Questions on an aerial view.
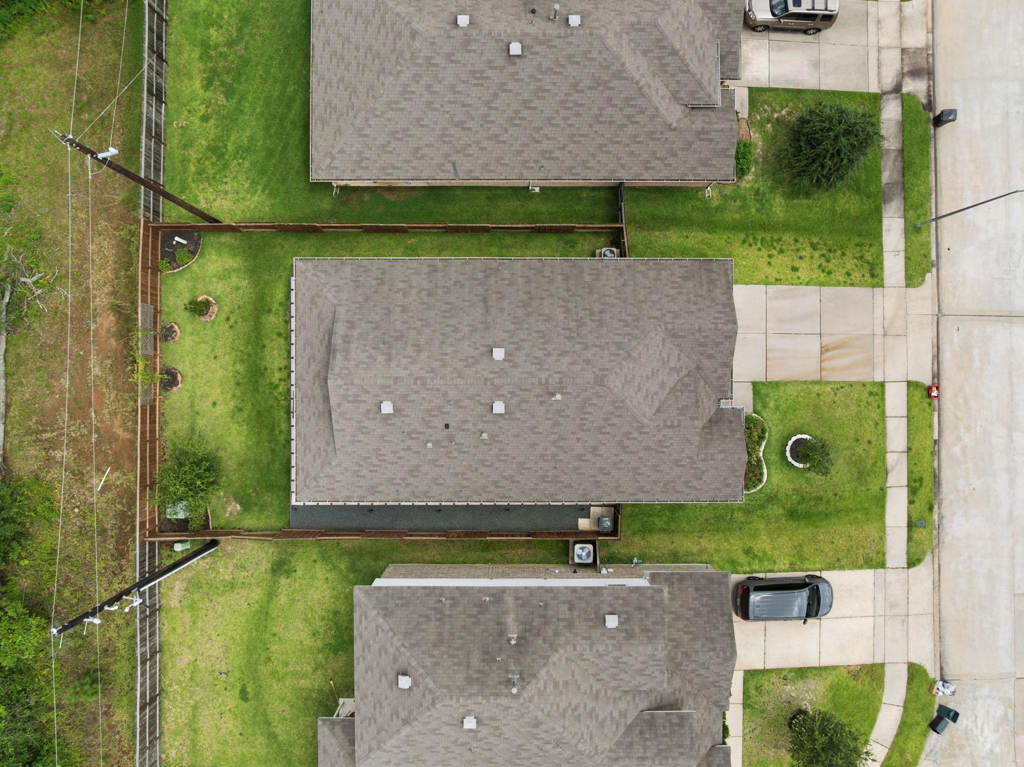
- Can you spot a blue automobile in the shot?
No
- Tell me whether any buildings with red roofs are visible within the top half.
No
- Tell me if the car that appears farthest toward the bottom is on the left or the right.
right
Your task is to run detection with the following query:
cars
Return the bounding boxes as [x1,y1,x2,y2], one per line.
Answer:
[731,575,833,628]
[746,0,841,32]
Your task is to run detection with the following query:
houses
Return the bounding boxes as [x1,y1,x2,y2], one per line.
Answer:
[310,0,749,196]
[318,556,738,767]
[293,258,747,503]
